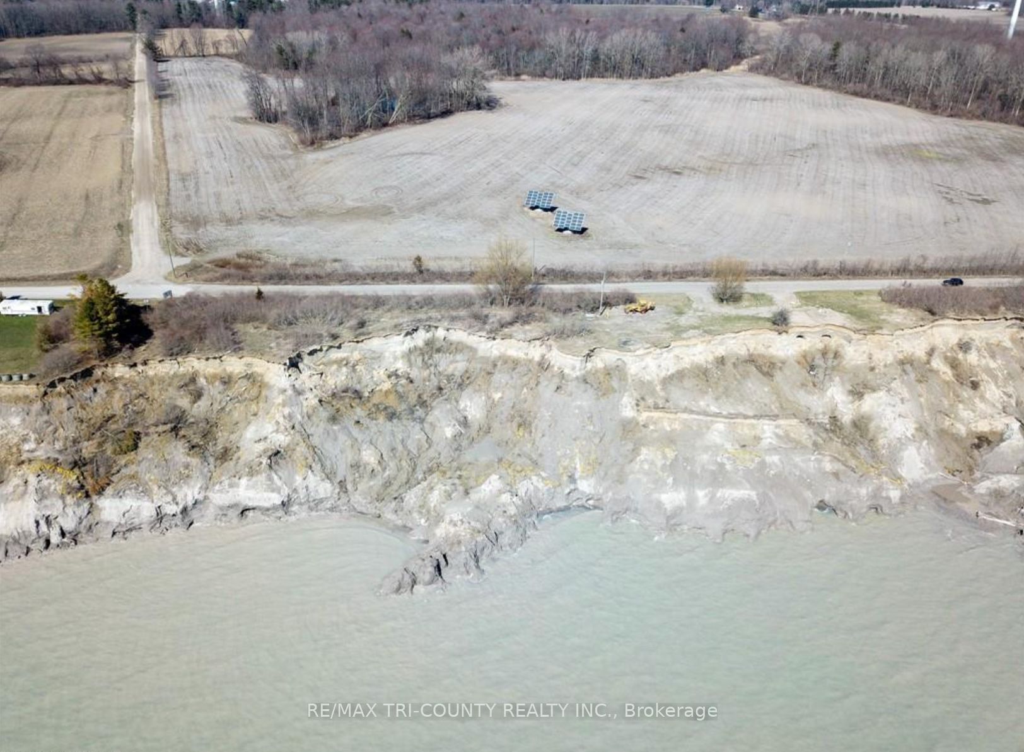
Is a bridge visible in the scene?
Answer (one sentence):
No, there is no bridge in the image.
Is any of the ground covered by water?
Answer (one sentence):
Yes, some water is visible.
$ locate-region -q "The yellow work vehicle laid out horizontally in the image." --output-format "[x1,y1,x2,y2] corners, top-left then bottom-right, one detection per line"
[624,298,659,314]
